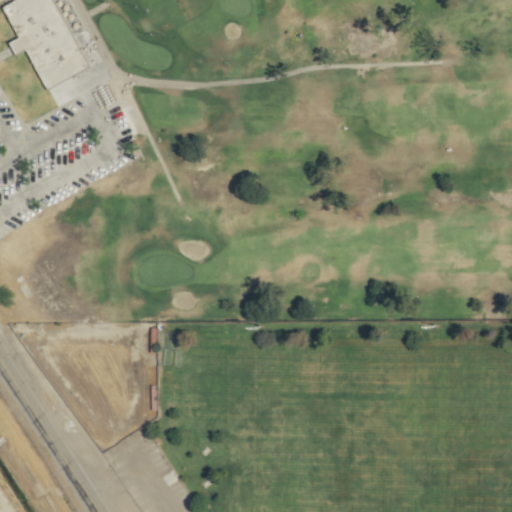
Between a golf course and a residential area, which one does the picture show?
golf course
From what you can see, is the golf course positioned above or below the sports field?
above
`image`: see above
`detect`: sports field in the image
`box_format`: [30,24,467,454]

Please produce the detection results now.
[154,323,512,512]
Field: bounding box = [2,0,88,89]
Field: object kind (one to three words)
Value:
building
